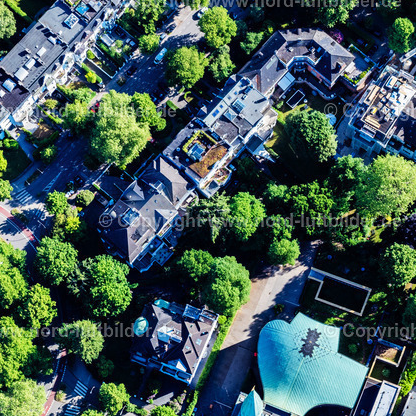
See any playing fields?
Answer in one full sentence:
No, the picture doesn't show any playing field.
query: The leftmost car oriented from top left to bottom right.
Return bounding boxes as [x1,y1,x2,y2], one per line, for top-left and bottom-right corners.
[95,195,111,209]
